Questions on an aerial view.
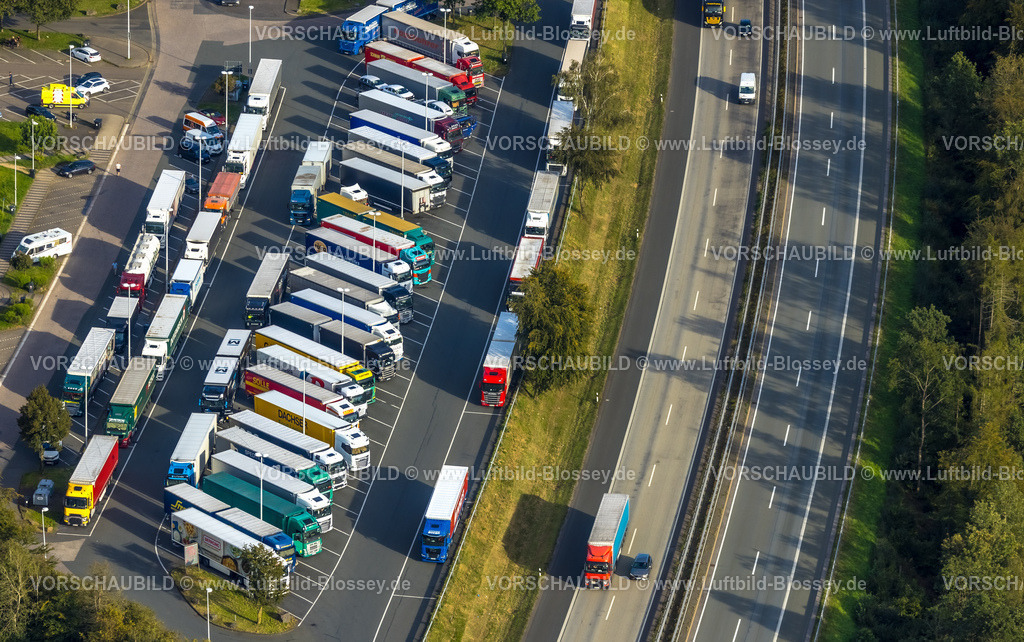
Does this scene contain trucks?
Yes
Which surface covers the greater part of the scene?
paved ground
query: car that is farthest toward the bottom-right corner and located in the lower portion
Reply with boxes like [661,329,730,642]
[629,550,653,577]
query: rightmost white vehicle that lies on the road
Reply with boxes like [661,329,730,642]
[738,69,757,102]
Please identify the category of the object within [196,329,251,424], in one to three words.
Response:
truck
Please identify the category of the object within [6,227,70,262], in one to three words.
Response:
camper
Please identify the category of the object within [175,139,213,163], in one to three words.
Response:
vehicle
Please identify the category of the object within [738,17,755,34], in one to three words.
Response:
car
